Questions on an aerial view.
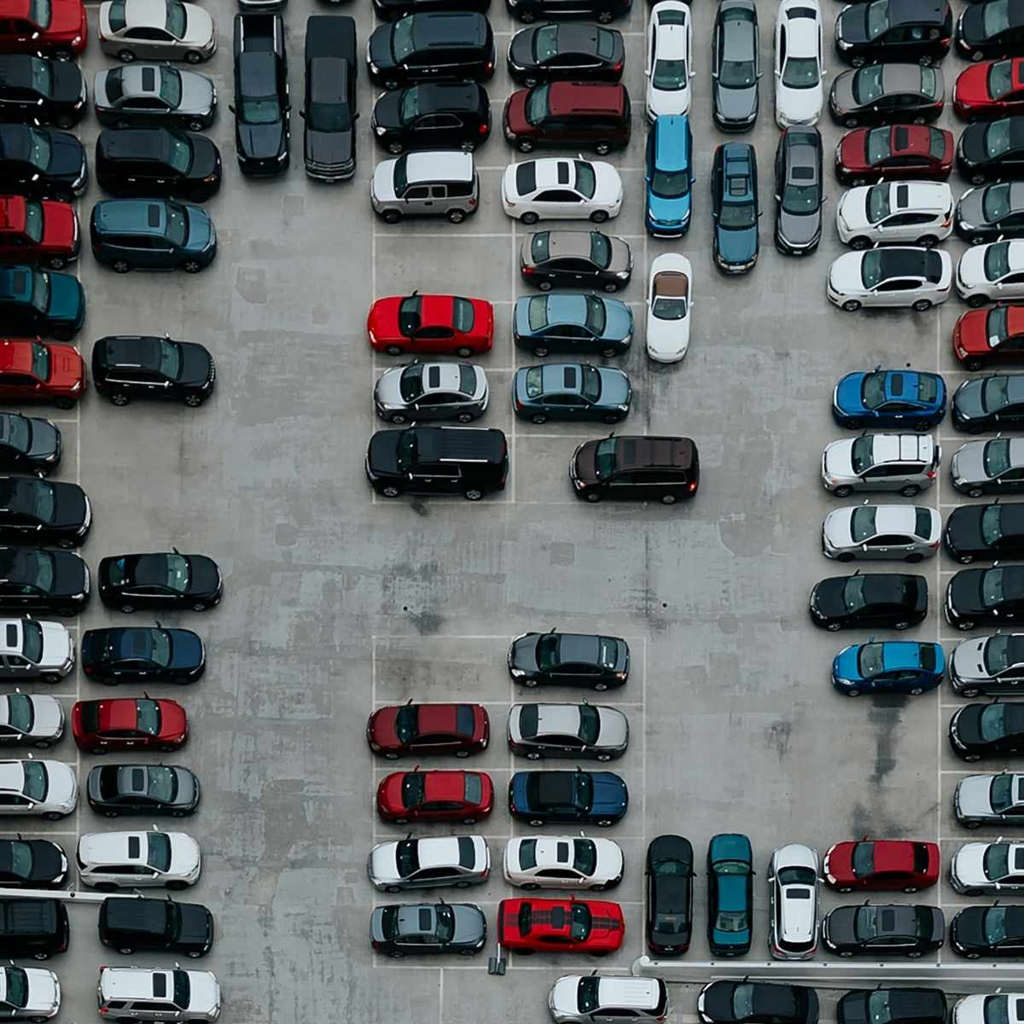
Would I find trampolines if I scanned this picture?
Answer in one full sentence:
No, no trampoline is visible in the scene.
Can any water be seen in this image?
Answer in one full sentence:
No, there is no water in the image.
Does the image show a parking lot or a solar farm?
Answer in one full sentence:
This image shows a parking lot.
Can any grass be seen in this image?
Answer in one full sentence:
No, the picture contains no grass.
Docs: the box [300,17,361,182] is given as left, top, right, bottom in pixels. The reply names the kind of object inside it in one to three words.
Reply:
truck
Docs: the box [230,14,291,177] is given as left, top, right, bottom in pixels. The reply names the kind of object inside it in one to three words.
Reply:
truck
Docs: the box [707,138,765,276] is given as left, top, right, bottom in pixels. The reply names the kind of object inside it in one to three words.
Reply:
car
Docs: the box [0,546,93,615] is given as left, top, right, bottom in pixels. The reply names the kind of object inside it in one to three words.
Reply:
car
